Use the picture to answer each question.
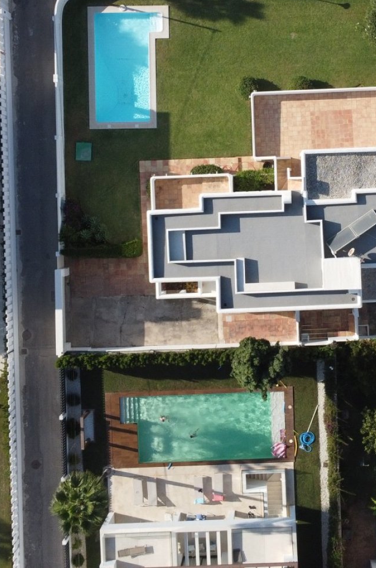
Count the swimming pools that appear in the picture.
two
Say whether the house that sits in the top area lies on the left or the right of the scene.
right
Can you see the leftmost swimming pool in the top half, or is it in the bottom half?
top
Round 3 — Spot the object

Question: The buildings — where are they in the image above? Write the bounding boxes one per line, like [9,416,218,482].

[148,88,376,314]
[100,467,299,568]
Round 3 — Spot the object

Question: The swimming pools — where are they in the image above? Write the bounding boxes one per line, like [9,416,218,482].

[118,390,288,465]
[88,5,170,128]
